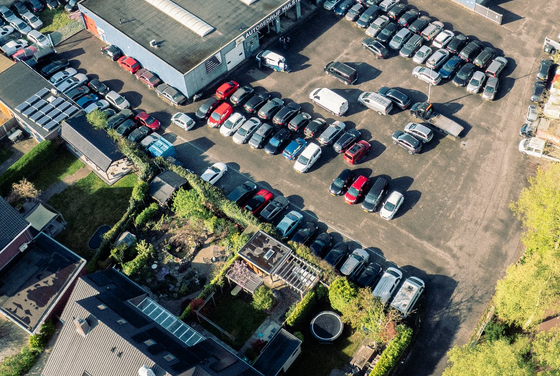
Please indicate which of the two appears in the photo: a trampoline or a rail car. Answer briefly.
trampoline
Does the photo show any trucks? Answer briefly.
Yes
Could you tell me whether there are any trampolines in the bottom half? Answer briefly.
Yes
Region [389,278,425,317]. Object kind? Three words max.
van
